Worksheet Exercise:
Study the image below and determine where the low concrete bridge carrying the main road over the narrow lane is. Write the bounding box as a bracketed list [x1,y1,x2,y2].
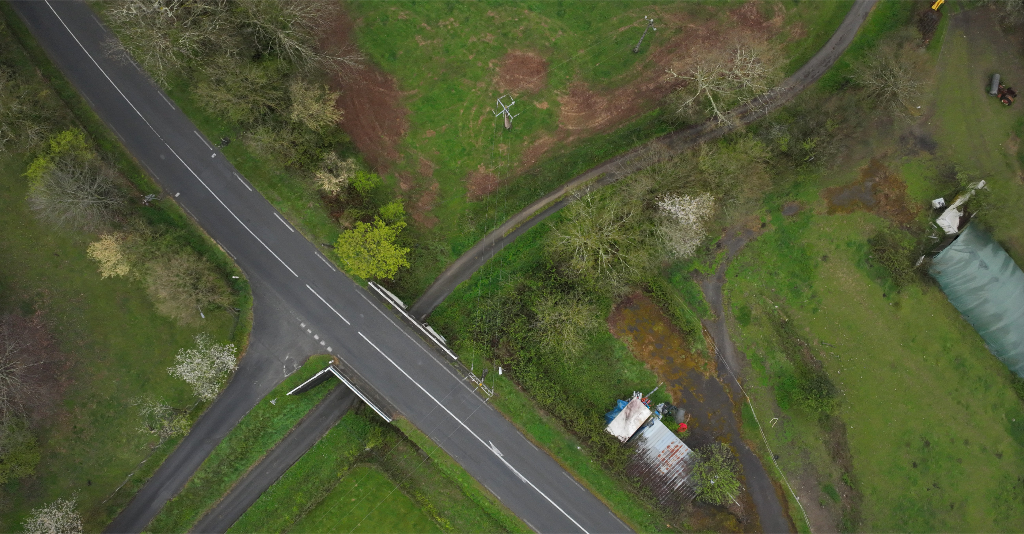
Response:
[322,278,488,421]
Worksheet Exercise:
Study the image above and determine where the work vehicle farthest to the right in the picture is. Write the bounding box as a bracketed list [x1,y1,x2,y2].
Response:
[1000,79,1022,104]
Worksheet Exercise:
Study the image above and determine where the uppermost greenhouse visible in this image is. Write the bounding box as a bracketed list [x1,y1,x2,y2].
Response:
[924,224,1024,385]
